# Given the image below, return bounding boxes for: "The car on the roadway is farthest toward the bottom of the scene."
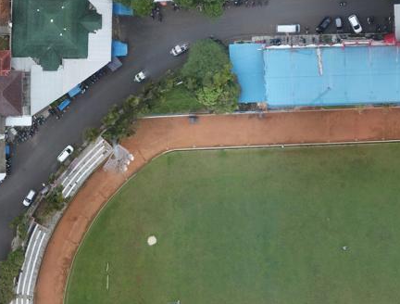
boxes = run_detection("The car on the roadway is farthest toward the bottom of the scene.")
[20,186,36,207]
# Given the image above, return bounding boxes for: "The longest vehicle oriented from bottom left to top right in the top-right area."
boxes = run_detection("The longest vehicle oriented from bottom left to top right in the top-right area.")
[315,12,333,34]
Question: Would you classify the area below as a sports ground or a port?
sports ground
